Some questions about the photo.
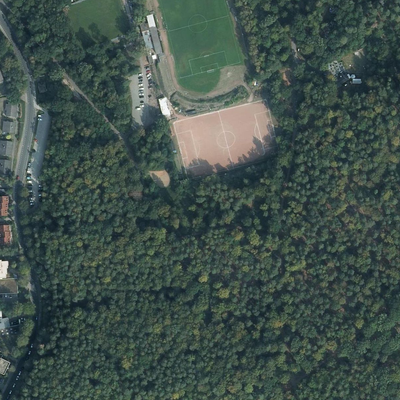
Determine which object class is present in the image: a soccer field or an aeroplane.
soccer field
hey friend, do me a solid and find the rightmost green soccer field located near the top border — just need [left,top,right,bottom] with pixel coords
[155,0,244,93]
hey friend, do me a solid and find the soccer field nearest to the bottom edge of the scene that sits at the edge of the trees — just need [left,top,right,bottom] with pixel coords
[173,100,280,179]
